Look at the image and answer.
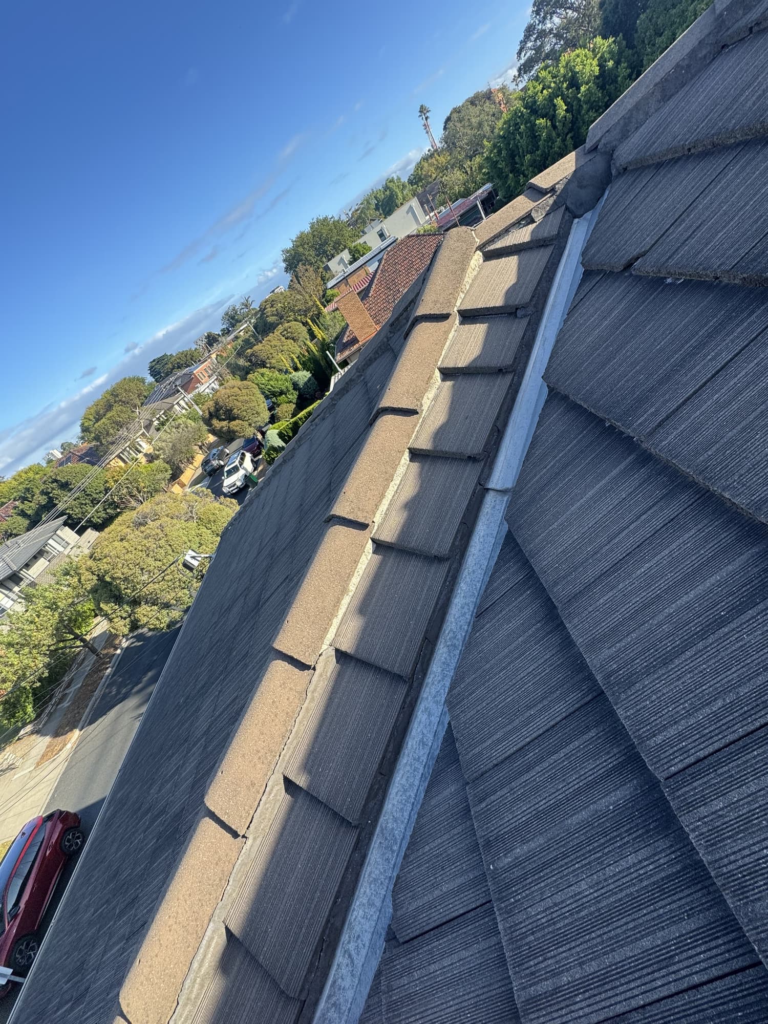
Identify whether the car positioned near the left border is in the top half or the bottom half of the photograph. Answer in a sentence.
The car positioned near the left border sits in the bottom half of the picture.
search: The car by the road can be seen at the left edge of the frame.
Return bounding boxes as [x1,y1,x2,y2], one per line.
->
[0,806,85,975]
